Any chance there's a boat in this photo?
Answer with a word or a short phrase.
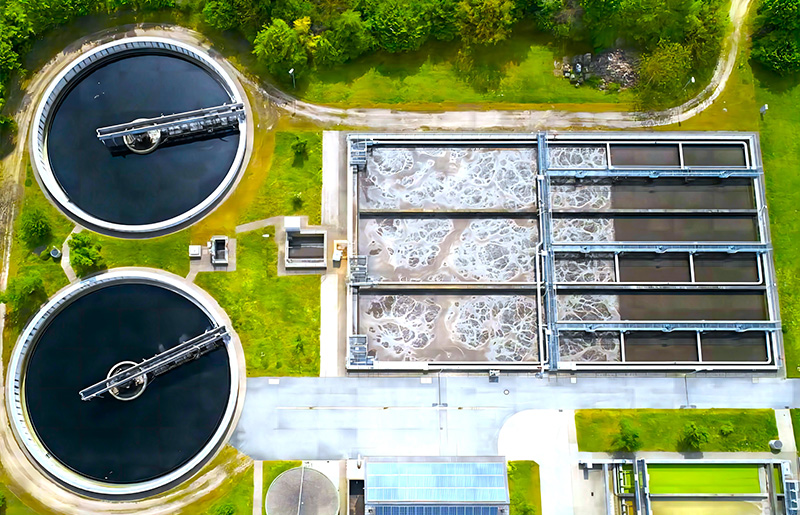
No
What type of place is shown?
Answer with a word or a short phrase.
industrial area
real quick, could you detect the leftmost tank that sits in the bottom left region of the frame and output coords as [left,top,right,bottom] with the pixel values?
[7,270,240,496]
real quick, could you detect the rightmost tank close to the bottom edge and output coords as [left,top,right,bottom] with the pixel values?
[265,466,341,515]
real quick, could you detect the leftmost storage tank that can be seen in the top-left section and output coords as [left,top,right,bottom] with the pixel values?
[31,37,248,234]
